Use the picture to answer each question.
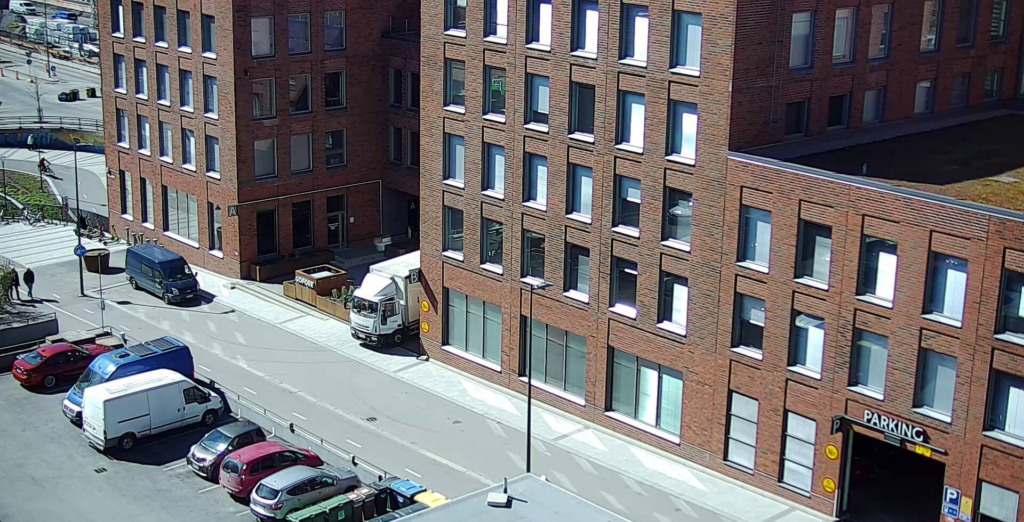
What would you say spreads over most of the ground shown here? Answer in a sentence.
What you mostly see from above here is buildings.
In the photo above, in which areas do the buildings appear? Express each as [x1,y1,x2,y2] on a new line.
[419,0,1024,522]
[97,0,380,275]
[393,472,637,522]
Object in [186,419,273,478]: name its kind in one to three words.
car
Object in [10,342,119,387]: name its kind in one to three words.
car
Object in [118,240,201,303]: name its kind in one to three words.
van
